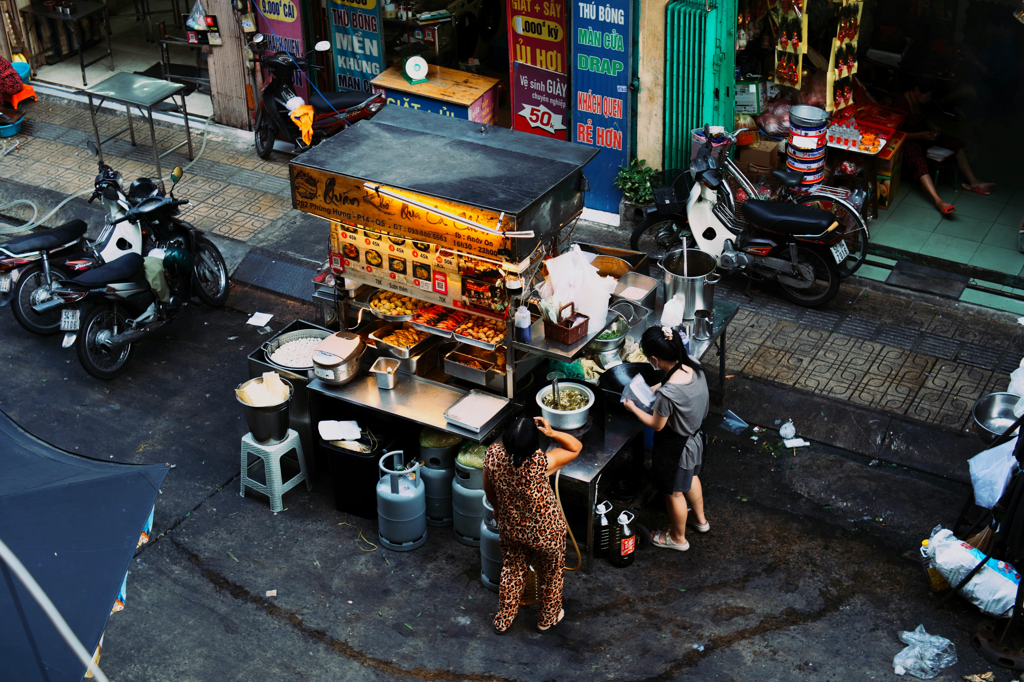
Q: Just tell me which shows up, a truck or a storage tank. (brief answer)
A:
storage tank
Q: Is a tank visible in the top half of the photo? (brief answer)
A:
No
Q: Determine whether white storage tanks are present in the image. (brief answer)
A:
No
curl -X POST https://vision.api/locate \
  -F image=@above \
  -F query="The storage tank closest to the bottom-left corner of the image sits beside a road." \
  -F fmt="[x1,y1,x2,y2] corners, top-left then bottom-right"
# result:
[377,470,427,540]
